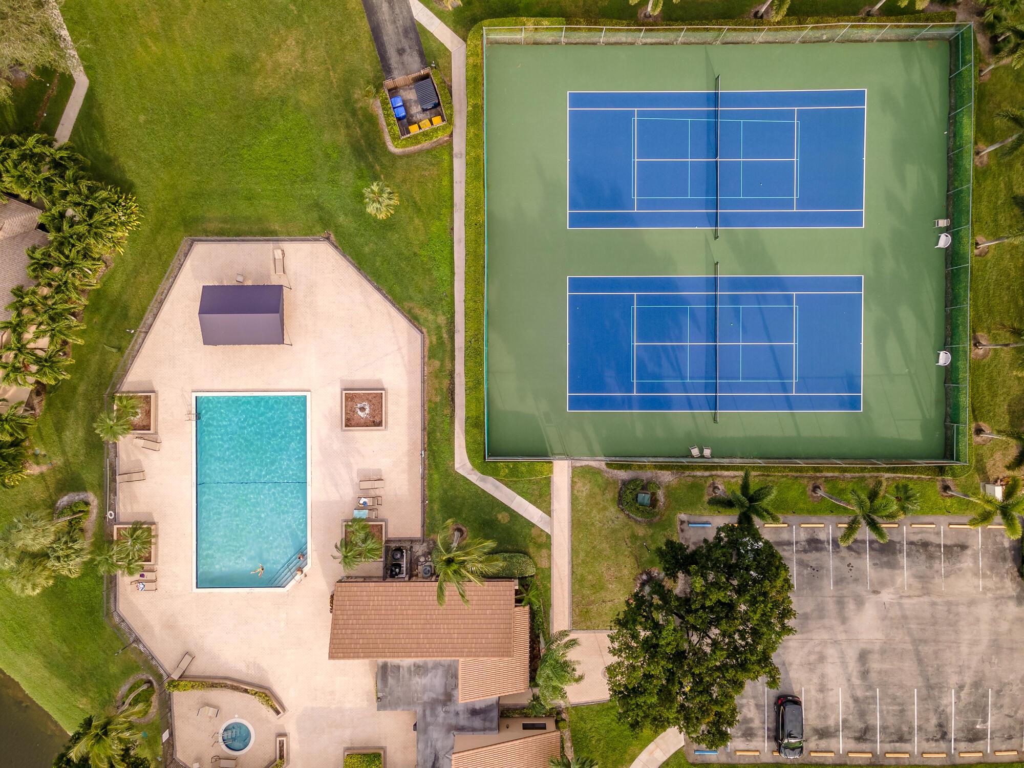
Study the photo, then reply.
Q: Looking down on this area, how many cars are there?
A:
1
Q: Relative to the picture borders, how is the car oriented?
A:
from top to bottom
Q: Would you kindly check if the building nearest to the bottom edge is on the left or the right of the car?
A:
left of it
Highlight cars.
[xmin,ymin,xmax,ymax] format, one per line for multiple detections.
[776,700,805,757]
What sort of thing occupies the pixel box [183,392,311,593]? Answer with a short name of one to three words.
swimming pool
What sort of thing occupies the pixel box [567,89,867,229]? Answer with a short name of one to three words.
tennis court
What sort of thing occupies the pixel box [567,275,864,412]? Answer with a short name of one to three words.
tennis court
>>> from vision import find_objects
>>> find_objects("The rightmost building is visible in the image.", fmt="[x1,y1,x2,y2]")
[327,577,561,768]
